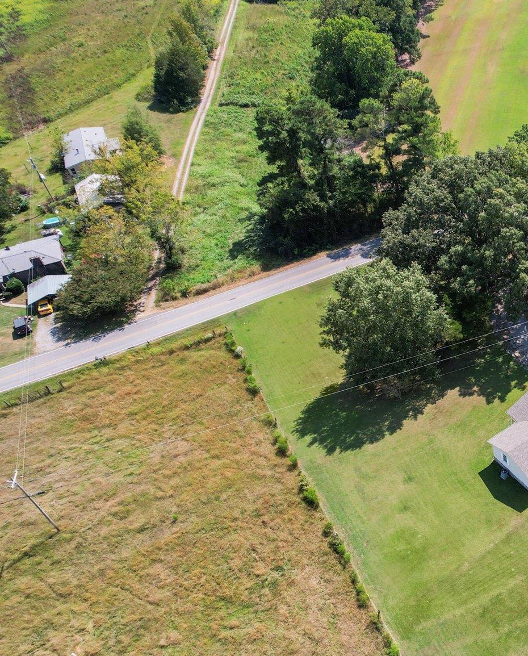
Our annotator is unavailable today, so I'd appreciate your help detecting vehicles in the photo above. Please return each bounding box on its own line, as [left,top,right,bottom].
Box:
[11,316,30,333]
[35,301,52,318]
